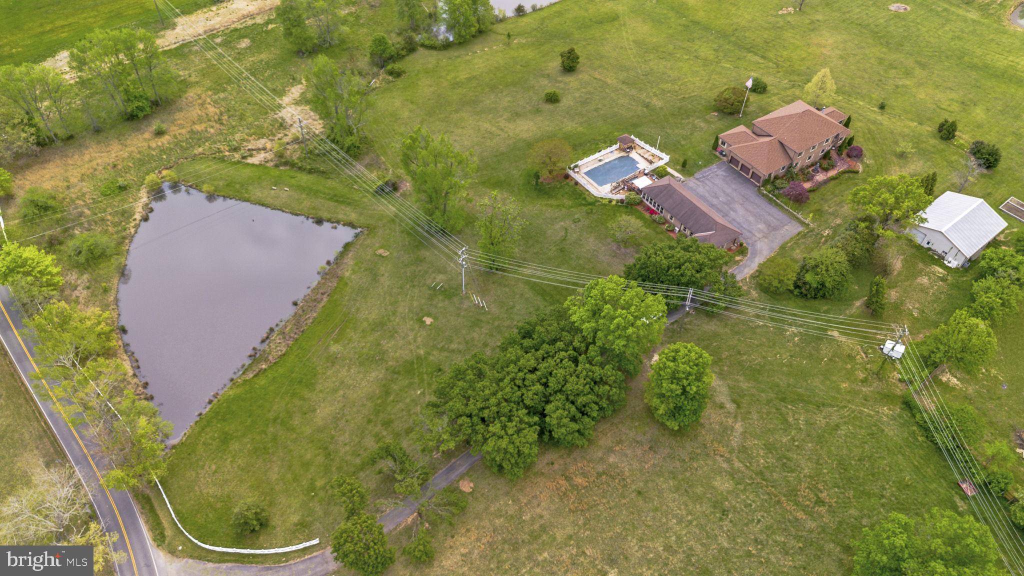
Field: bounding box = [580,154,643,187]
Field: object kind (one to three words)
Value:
swimming pool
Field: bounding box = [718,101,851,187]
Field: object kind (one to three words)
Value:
house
